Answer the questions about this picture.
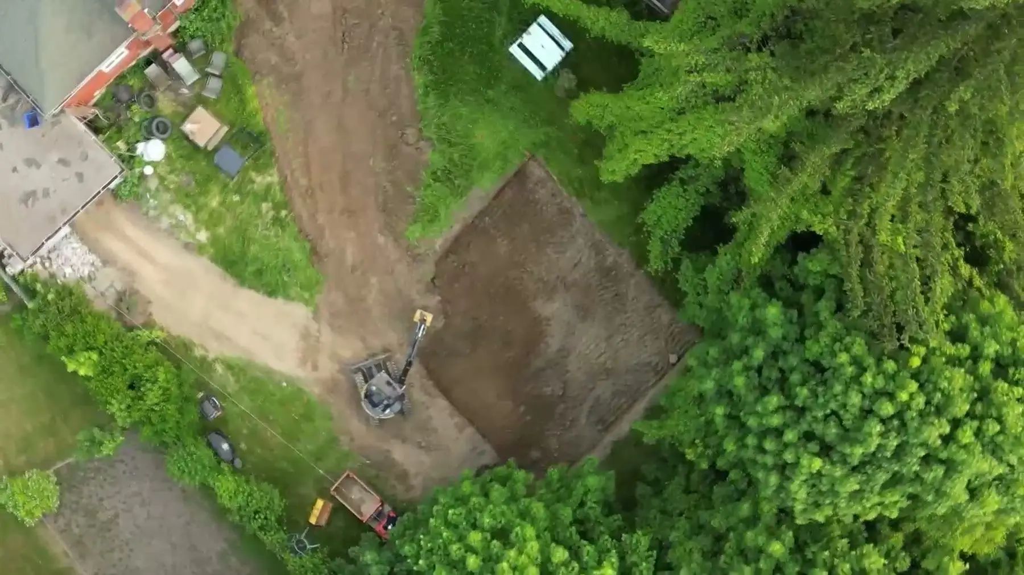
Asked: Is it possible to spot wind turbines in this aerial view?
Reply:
No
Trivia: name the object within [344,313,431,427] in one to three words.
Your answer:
work vehicle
